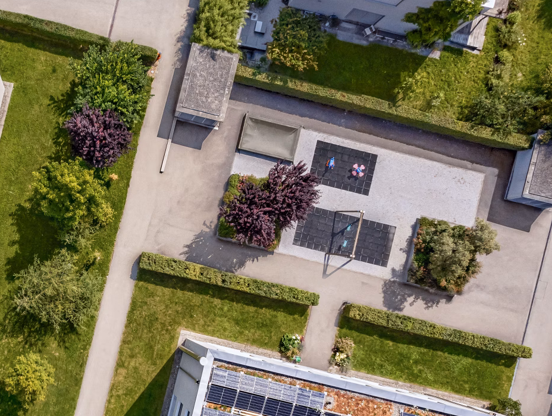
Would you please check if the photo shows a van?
No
